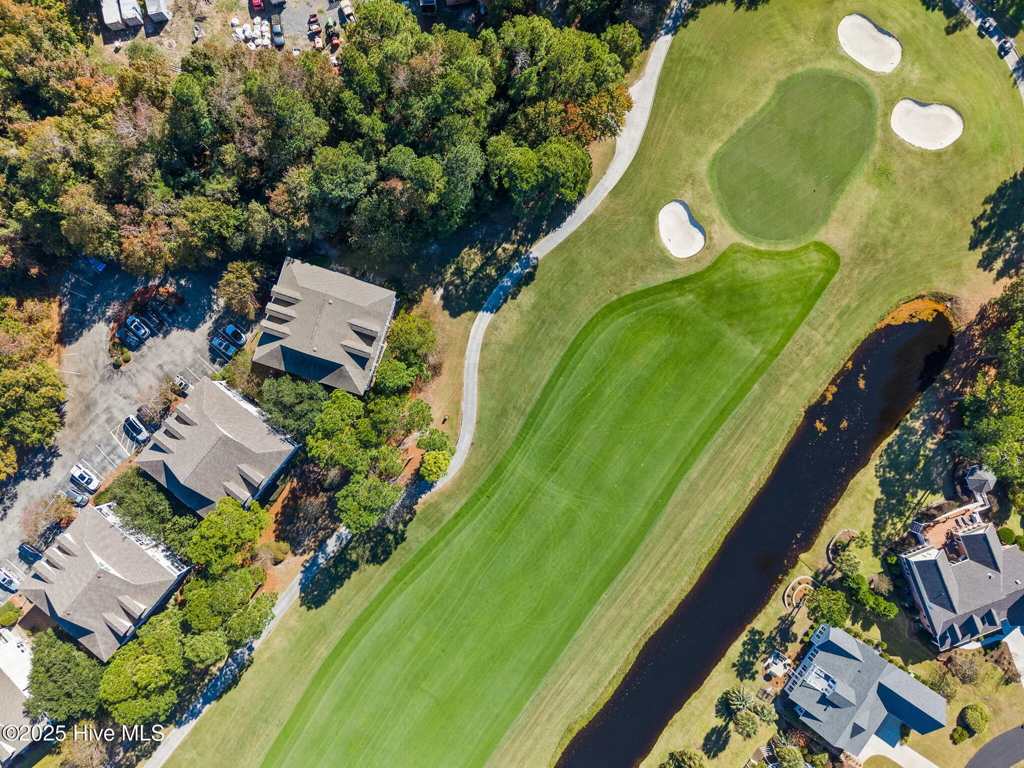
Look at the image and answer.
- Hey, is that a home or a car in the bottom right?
home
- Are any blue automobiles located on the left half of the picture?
Yes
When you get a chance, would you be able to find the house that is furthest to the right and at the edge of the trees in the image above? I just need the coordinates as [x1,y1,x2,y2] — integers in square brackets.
[898,522,1024,651]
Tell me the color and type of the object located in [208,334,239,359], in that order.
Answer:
blue car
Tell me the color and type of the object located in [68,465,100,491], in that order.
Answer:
white car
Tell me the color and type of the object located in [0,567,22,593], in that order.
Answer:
white car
